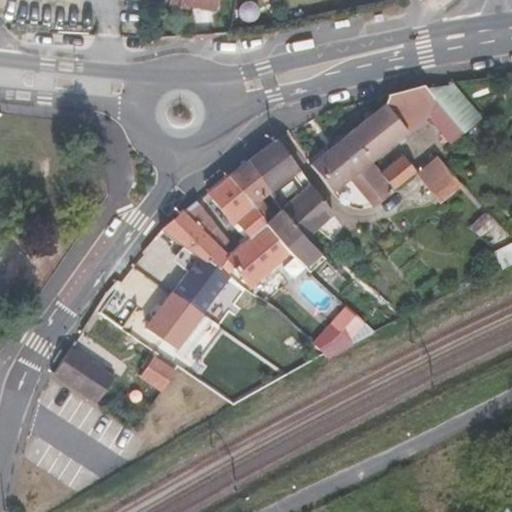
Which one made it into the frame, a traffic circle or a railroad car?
traffic circle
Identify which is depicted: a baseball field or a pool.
pool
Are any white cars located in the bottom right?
No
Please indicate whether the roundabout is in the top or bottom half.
top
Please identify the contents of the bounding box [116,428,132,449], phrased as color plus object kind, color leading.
white car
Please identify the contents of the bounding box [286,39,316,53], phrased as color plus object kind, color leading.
white vehicle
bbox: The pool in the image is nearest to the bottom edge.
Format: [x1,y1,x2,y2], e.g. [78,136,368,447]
[301,279,330,306]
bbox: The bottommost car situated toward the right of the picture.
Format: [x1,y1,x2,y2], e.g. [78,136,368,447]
[381,193,402,212]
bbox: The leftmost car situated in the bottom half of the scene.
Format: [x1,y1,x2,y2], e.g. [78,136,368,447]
[53,386,70,408]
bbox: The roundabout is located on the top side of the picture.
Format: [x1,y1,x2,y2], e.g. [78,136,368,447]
[138,68,224,154]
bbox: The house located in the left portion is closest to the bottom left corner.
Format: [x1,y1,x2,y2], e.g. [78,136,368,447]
[54,344,115,402]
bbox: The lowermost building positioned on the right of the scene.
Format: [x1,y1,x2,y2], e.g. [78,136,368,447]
[314,306,372,360]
